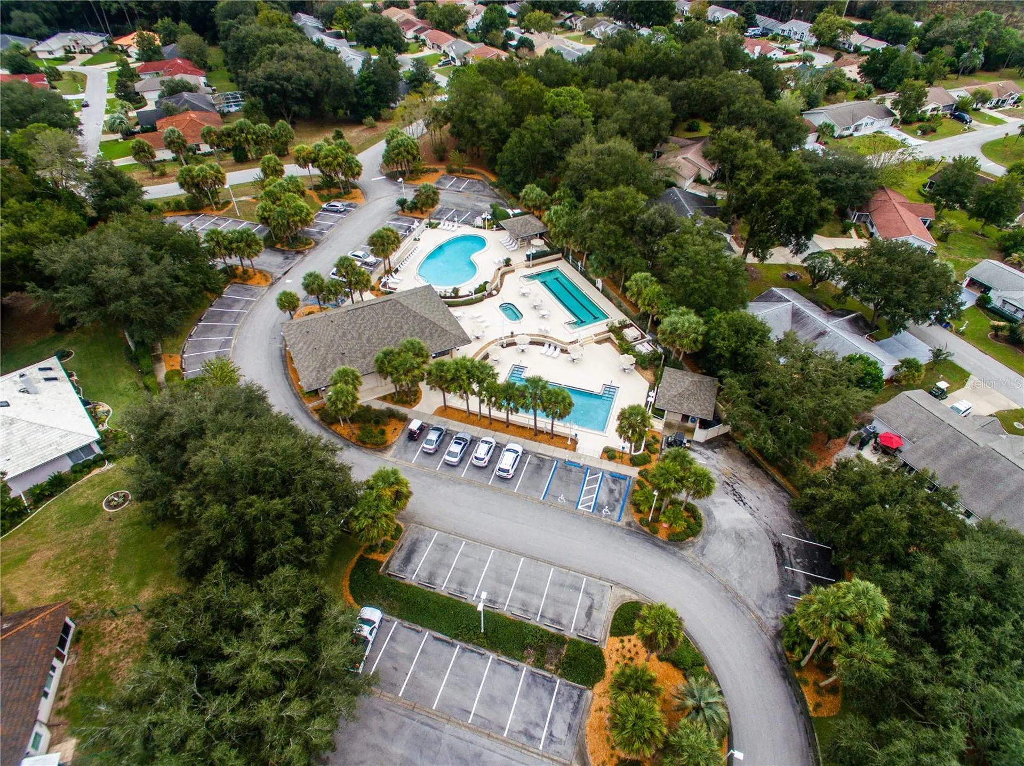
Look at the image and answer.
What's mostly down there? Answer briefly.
trees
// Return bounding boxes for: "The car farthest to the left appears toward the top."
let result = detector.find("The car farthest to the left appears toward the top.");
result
[78,96,91,109]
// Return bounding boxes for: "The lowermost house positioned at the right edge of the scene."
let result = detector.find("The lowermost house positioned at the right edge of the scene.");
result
[871,381,1024,505]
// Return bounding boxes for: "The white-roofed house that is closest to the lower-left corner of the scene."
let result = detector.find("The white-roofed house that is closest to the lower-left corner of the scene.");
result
[0,356,109,501]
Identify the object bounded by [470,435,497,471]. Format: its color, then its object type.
white car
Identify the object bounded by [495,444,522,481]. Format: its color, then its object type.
white car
